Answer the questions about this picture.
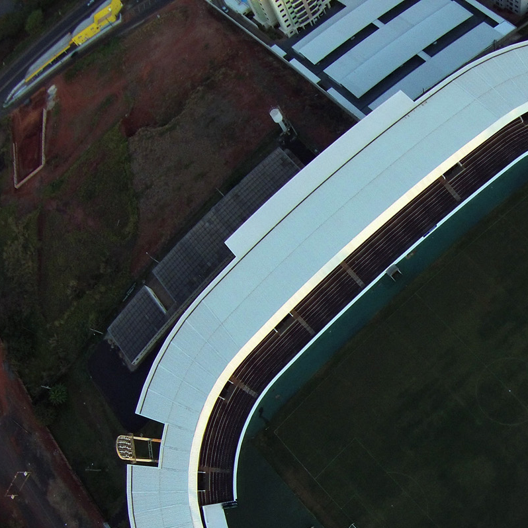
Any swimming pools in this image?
No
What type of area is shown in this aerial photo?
sports ground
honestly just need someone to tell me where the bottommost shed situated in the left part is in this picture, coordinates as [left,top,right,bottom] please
[107,285,183,370]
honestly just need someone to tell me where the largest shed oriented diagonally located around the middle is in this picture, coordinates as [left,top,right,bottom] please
[153,147,304,310]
